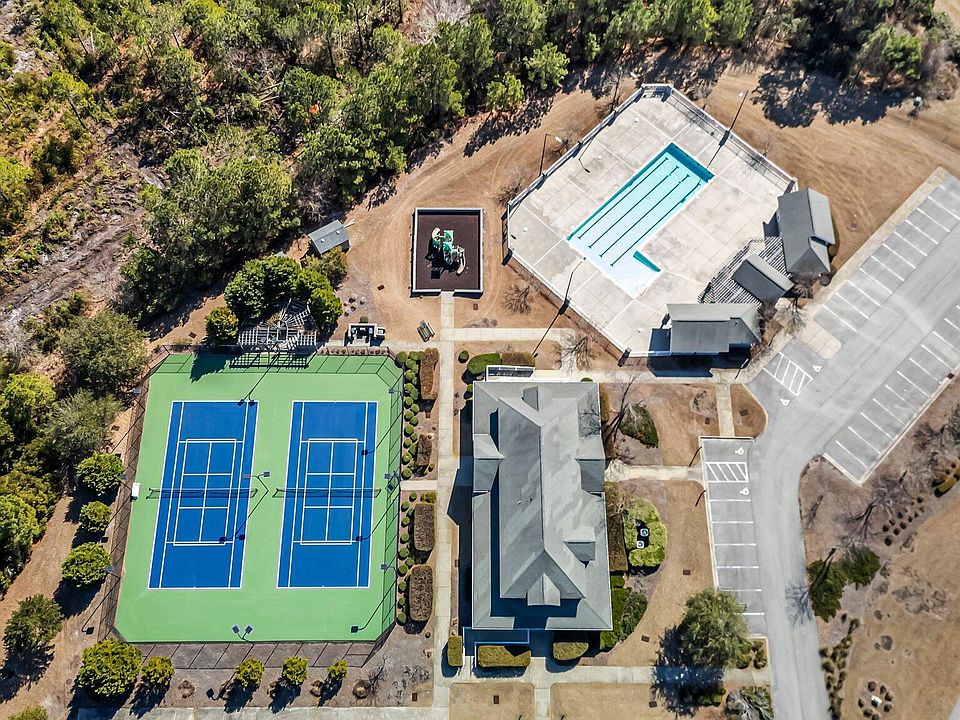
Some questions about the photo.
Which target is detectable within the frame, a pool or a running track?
pool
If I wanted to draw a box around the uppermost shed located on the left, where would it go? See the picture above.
[308,219,349,259]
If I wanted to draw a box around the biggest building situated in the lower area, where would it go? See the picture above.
[472,382,613,630]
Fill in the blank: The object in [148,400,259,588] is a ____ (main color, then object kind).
blue tennis court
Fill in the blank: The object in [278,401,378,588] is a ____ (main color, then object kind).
blue tennis court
